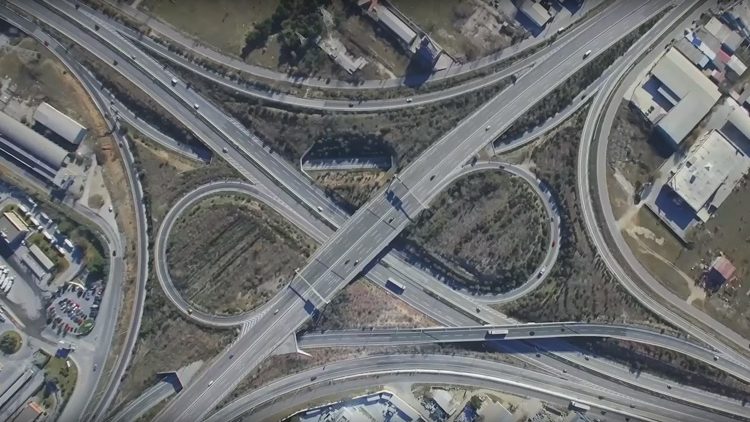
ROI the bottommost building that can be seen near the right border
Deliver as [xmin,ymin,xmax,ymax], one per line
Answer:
[707,256,735,281]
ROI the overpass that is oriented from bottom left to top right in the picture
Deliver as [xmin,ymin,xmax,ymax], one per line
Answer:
[313,192,408,283]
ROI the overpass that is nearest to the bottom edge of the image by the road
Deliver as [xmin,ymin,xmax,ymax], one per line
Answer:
[439,323,576,341]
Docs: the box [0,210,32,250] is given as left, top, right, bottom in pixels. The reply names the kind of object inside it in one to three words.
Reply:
building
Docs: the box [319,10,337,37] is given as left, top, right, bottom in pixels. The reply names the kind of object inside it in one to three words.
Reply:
pylon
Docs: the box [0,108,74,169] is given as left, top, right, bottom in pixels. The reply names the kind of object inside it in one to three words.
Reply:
shed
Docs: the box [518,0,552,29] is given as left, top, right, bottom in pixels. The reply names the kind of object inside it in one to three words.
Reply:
building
